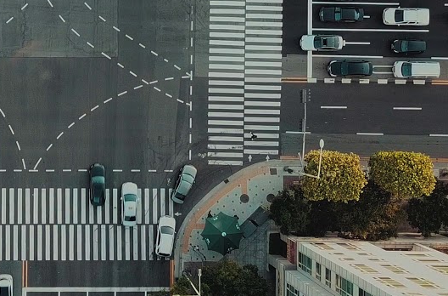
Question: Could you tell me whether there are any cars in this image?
Yes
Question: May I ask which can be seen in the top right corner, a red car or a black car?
black car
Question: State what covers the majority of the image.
paved ground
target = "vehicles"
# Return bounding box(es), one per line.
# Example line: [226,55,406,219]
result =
[392,59,445,80]
[381,6,430,27]
[318,5,365,24]
[155,213,177,257]
[120,181,140,226]
[171,163,197,205]
[298,33,345,52]
[326,58,373,79]
[0,273,13,296]
[87,162,106,206]
[278,167,297,173]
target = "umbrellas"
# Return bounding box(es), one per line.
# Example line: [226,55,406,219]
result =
[200,209,244,255]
